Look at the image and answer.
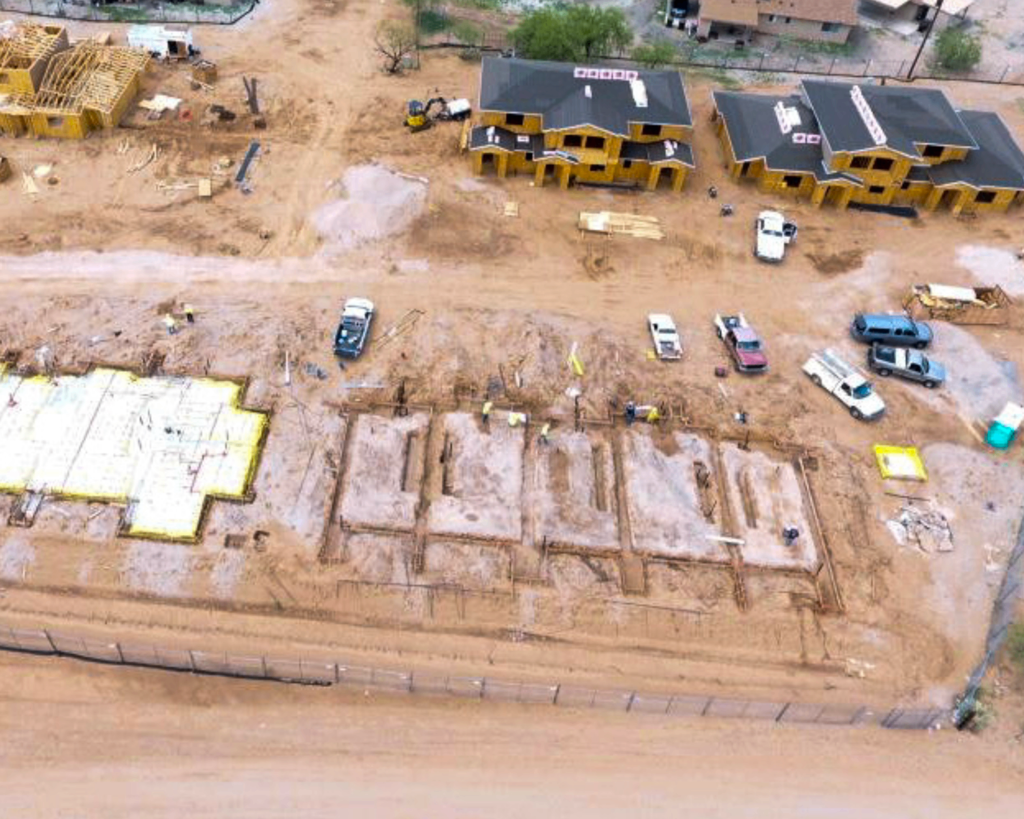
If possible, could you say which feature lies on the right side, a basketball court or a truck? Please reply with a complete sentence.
You can see a truck on the right side.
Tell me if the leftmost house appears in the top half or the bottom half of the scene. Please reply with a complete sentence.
The leftmost house sits in the top half of the picture.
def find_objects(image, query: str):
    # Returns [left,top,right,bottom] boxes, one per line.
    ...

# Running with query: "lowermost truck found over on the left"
[330,300,374,357]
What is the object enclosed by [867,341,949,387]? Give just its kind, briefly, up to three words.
truck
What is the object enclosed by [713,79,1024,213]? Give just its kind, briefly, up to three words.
house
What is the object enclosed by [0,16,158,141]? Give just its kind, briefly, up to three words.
house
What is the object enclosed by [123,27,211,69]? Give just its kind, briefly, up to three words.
trailer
